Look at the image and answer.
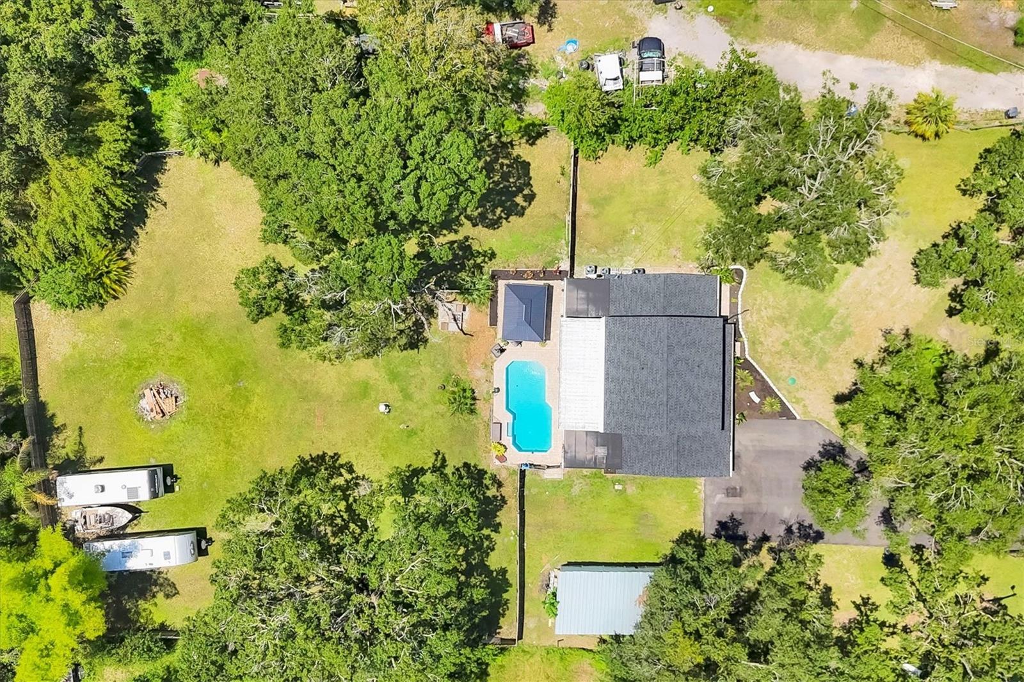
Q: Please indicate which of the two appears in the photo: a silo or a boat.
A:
boat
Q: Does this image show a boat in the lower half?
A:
Yes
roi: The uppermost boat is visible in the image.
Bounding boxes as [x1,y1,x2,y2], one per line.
[64,507,141,535]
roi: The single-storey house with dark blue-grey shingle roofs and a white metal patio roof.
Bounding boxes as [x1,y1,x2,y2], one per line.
[558,272,735,477]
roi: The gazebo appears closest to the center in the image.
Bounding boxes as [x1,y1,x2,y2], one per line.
[502,284,549,341]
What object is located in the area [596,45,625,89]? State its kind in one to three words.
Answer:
van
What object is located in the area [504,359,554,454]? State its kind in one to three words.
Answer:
swimming pool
